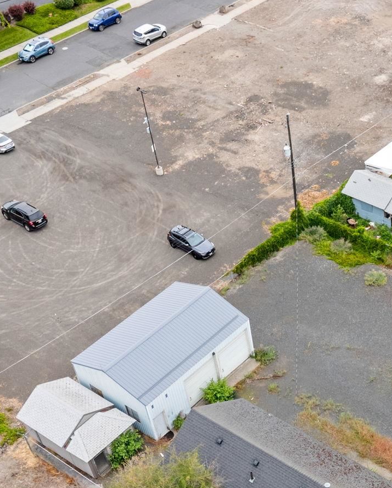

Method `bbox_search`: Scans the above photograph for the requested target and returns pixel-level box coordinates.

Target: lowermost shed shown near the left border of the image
[16,377,139,484]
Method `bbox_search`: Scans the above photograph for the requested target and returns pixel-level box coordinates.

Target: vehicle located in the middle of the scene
[163,221,219,259]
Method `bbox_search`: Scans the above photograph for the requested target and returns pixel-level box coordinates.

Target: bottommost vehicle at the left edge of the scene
[0,200,49,231]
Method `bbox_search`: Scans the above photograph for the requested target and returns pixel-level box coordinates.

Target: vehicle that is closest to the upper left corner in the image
[13,35,56,63]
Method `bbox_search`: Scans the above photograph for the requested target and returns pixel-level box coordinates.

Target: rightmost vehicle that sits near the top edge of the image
[130,23,169,45]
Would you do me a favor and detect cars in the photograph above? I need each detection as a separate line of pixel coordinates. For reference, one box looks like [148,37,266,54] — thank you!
[130,23,169,45]
[0,133,15,153]
[13,35,56,63]
[163,221,219,259]
[83,5,123,31]
[0,200,49,231]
